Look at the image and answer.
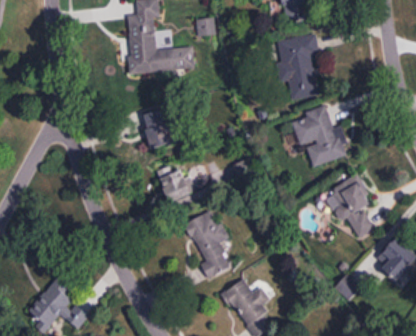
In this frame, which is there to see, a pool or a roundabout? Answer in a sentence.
Visible in the photo is a pool.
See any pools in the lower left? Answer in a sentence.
No, no pool can be made out in the lower left.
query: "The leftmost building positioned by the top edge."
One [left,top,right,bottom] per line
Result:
[126,0,194,73]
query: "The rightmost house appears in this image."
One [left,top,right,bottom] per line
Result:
[377,238,416,283]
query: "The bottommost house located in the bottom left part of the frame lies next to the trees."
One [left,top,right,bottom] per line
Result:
[28,282,88,330]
